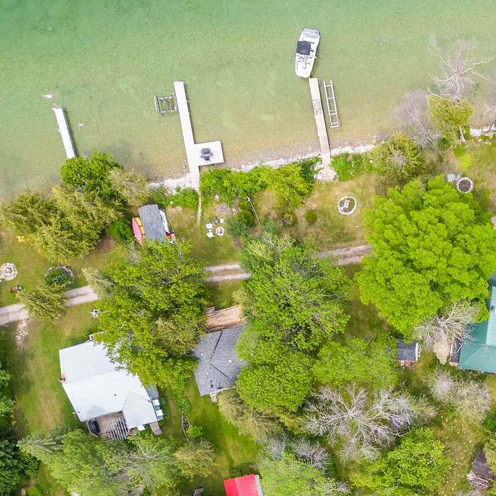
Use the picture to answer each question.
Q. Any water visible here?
Yes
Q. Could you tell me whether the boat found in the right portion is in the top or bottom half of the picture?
top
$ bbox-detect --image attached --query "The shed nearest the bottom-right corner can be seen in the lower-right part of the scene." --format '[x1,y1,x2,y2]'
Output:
[473,450,491,475]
